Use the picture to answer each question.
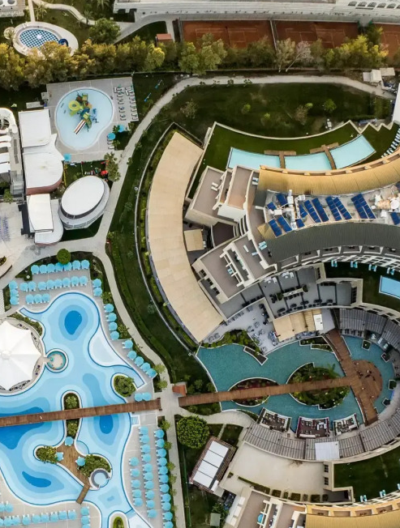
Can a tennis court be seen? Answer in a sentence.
Yes, there is a tennis court in the image.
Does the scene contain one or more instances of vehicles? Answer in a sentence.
No, I find no vehicle anywhere in the image.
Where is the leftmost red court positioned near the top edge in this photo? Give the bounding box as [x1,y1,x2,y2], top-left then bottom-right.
[181,14,279,62]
